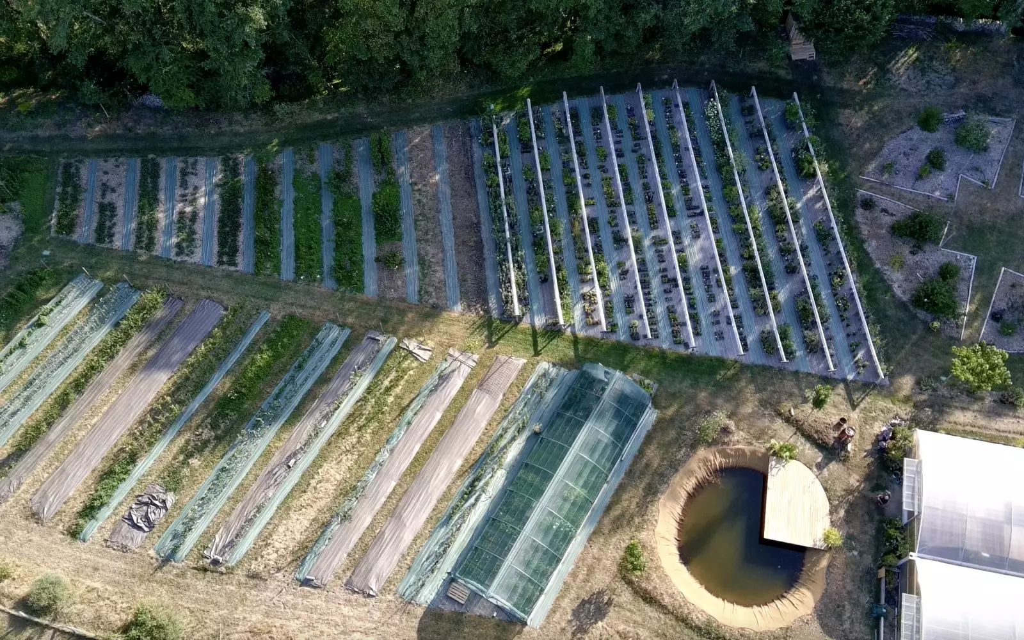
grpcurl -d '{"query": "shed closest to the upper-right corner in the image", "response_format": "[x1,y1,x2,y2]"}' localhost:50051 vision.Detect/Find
[784,17,819,62]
